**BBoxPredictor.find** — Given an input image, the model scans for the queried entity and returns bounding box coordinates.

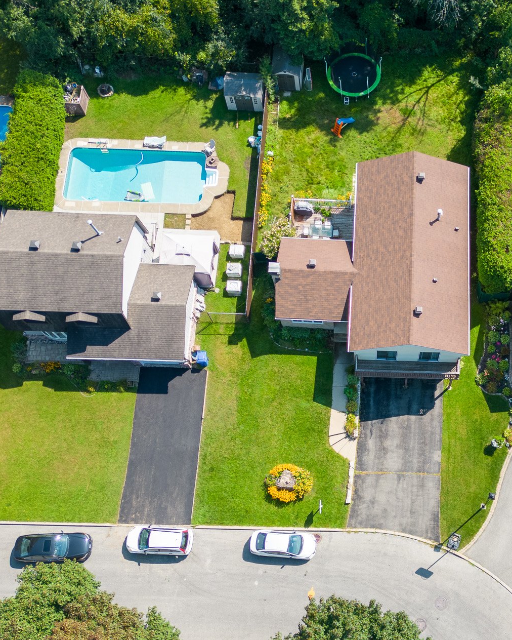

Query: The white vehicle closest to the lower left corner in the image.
[124,522,195,558]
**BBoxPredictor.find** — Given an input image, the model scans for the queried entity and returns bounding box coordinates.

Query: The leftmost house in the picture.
[0,210,203,369]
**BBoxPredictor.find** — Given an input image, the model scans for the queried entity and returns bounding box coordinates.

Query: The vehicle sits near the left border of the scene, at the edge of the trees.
[12,529,94,564]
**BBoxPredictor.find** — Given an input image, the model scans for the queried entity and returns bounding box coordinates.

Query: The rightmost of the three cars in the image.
[248,528,319,562]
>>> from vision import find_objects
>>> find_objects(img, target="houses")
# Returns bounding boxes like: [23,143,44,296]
[0,210,203,369]
[266,151,472,393]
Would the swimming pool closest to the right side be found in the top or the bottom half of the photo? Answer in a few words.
top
